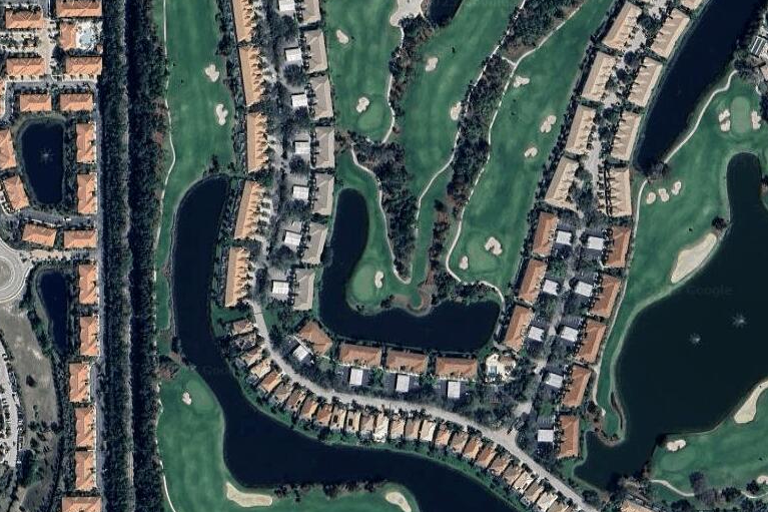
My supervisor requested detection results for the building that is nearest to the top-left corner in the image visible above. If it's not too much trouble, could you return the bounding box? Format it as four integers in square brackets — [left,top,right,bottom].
[6,10,43,29]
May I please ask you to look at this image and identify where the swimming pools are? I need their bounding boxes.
[486,355,517,380]
[76,20,103,51]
